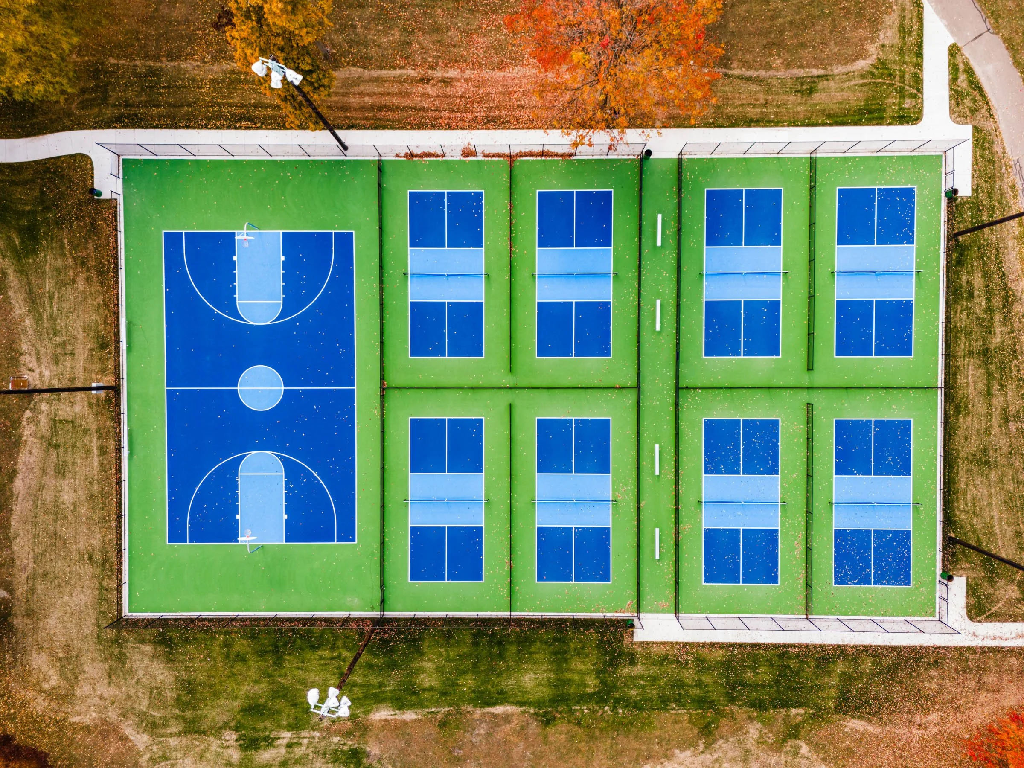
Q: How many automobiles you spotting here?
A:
0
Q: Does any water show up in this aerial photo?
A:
No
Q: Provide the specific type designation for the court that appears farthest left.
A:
basketball court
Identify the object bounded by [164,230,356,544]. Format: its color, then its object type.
blue basketball court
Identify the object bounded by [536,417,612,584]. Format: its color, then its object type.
blue sports court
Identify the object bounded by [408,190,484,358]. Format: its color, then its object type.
blue sports court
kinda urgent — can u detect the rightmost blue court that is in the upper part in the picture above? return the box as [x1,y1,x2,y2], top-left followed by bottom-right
[835,186,916,357]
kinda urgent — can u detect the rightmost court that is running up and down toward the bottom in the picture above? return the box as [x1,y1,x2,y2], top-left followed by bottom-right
[833,419,913,587]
